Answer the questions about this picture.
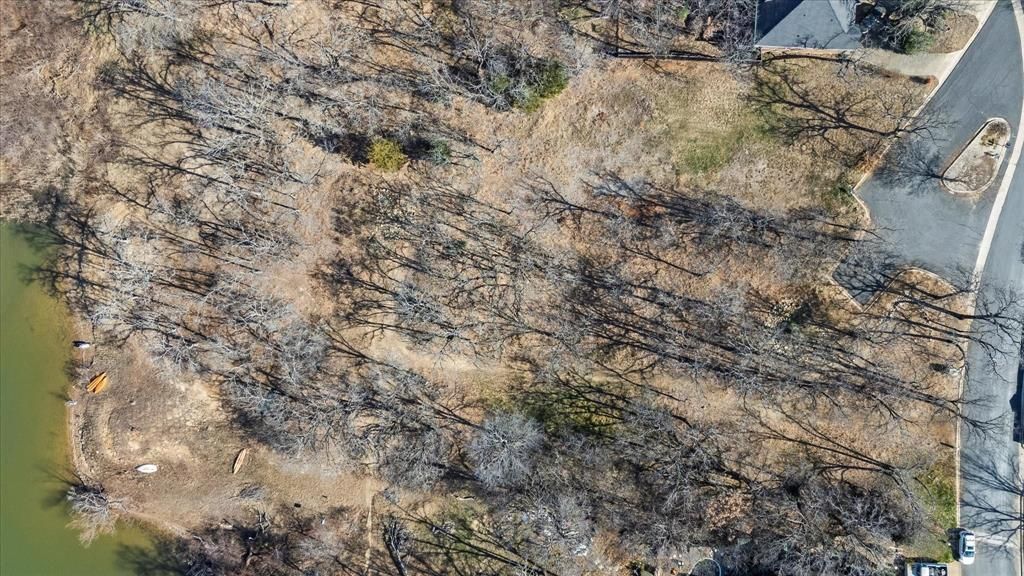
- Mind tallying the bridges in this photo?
zero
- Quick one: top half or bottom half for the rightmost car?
bottom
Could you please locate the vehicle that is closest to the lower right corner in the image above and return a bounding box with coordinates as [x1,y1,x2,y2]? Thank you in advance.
[958,530,978,564]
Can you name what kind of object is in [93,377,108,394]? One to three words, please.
boat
